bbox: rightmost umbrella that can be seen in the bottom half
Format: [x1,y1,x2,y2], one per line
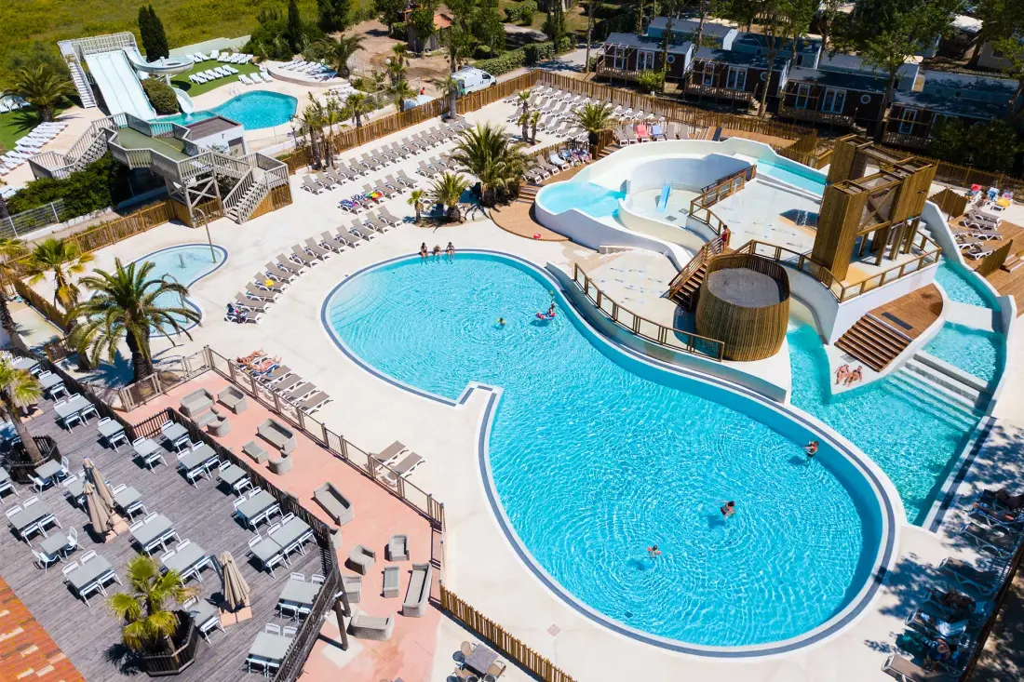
[210,550,256,628]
